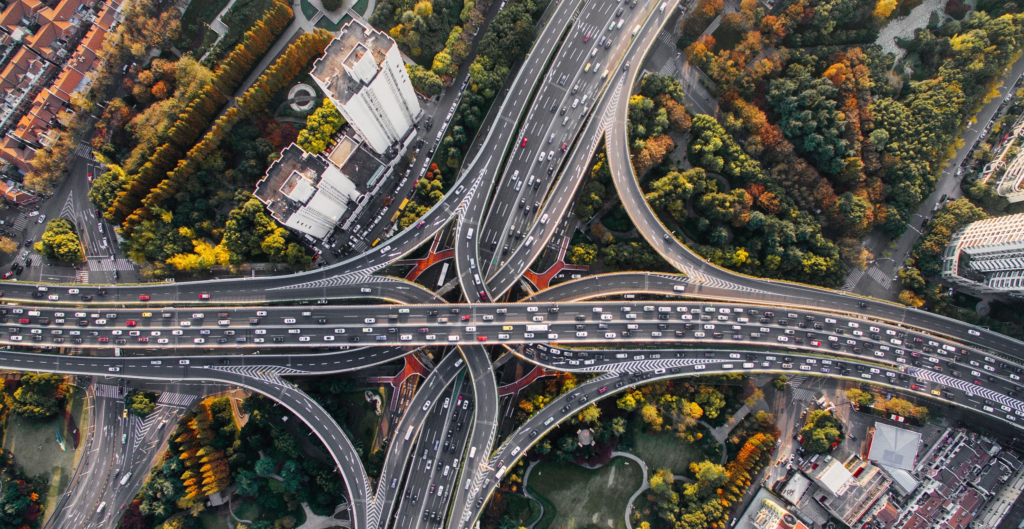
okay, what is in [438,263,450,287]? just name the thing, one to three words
vehicle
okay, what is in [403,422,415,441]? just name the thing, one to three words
vehicle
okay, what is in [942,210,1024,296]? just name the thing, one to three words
building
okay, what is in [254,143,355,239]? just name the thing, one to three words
building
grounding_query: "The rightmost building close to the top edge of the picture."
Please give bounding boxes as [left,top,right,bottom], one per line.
[310,19,418,153]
